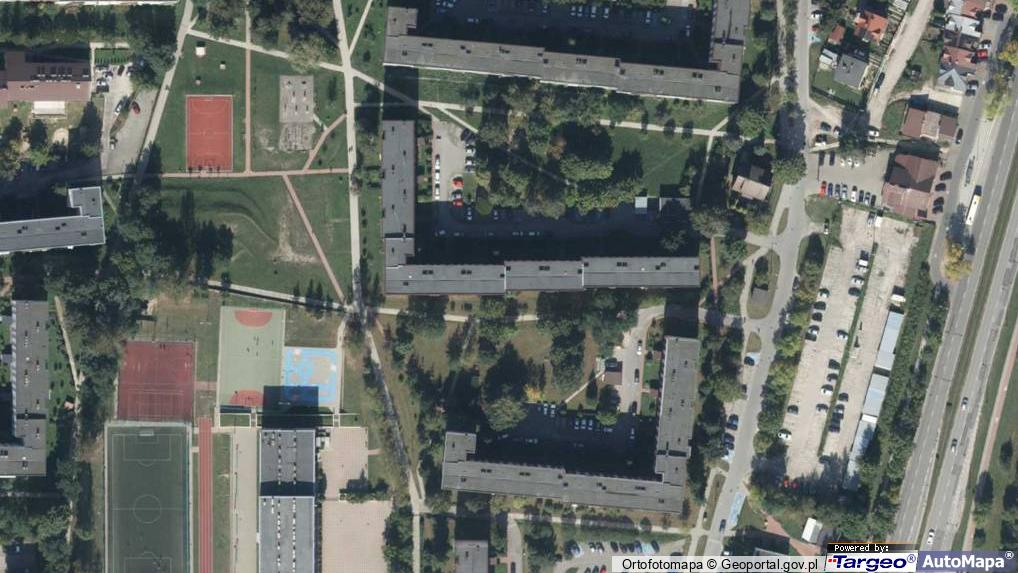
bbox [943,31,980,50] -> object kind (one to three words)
house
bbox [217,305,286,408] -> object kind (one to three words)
sports court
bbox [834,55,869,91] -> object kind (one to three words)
house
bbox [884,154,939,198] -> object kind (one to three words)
building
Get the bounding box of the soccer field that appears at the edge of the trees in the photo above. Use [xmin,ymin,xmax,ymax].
[104,420,192,573]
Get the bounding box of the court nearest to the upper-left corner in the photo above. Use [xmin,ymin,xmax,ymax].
[186,95,233,171]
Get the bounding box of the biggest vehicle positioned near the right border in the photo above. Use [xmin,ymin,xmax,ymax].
[967,194,981,225]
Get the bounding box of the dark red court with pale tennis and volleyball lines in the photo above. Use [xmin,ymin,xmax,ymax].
[116,340,196,423]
